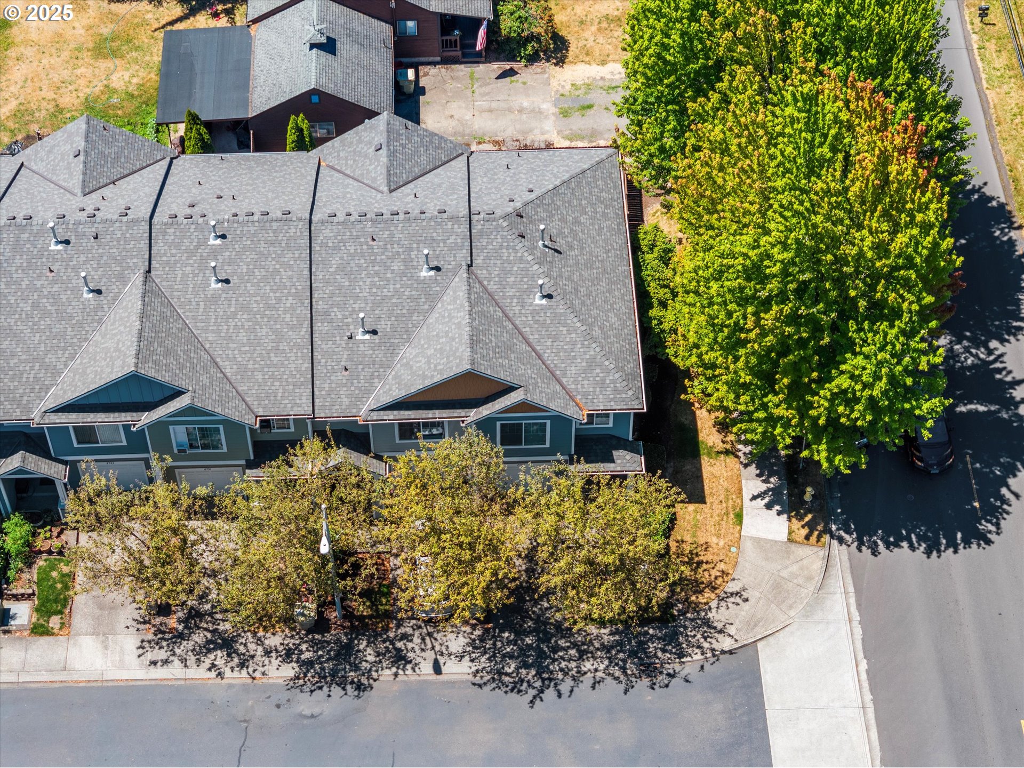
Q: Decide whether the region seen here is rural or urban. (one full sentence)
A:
The area is urban.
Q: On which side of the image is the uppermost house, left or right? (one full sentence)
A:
You can find the uppermost house on the left side of the picture.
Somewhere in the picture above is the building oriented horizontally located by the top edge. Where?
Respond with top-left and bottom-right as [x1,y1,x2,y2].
[155,0,493,154]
